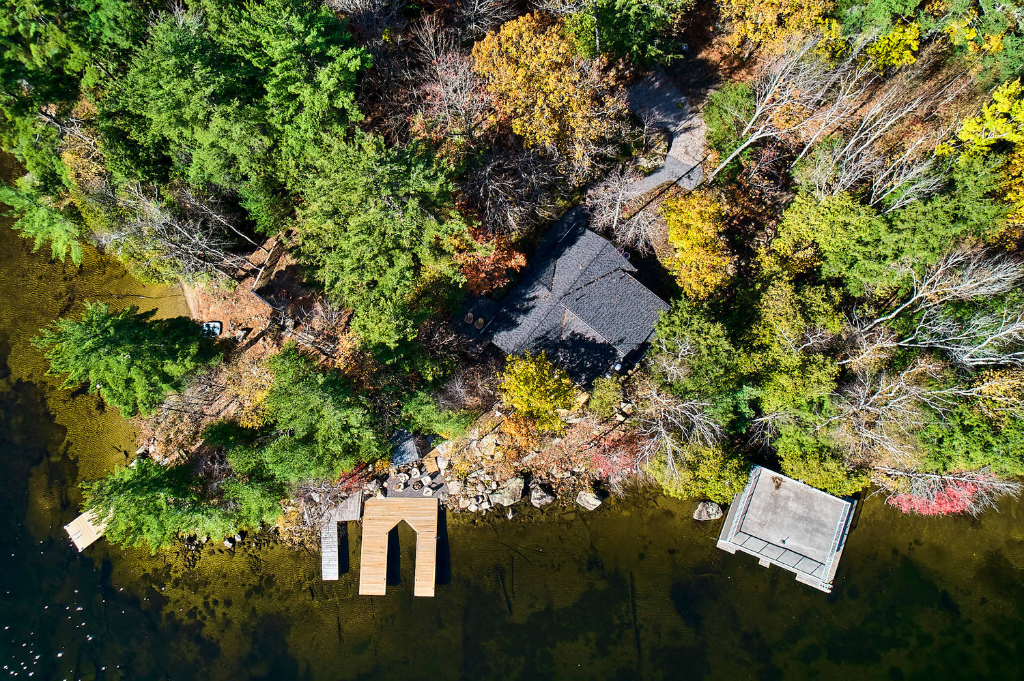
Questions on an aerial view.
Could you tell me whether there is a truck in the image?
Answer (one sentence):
No, the scene contains no truck.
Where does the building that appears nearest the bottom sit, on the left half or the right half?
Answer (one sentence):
It is on the right.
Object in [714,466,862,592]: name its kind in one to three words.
building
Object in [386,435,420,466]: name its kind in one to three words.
shed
